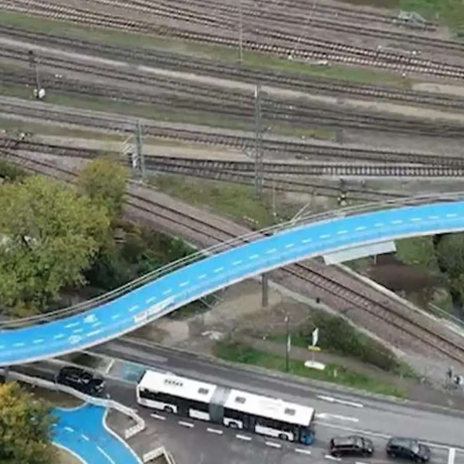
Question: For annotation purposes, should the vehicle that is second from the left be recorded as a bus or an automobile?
bus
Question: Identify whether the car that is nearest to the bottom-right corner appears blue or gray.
gray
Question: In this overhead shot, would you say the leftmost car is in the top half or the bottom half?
bottom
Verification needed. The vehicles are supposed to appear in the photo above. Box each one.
[138,372,323,446]
[56,361,104,391]
[329,433,376,458]
[385,433,434,463]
